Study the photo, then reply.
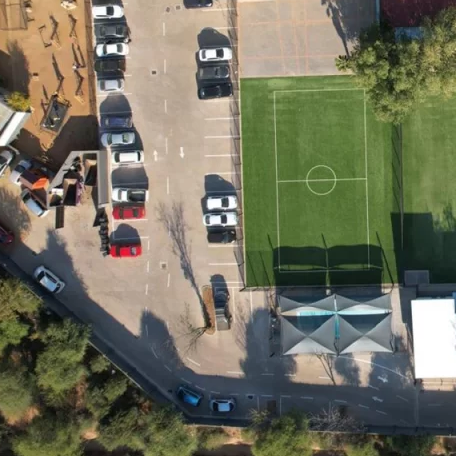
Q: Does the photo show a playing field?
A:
Yes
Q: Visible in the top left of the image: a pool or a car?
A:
car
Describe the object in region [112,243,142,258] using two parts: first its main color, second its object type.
red car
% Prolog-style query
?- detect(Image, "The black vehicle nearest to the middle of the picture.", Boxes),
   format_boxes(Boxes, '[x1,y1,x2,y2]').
[204,228,241,243]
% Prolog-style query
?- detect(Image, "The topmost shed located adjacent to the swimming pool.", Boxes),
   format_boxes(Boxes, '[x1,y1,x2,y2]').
[404,267,429,286]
